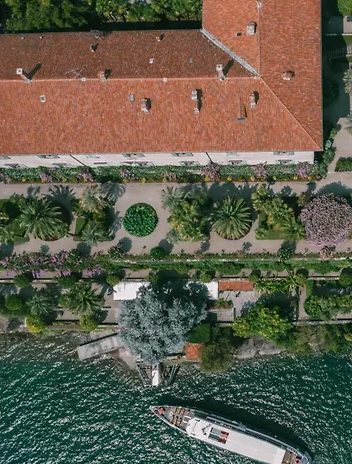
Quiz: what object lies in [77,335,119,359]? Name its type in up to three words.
pier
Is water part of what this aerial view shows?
Yes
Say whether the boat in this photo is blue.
No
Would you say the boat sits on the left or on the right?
right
